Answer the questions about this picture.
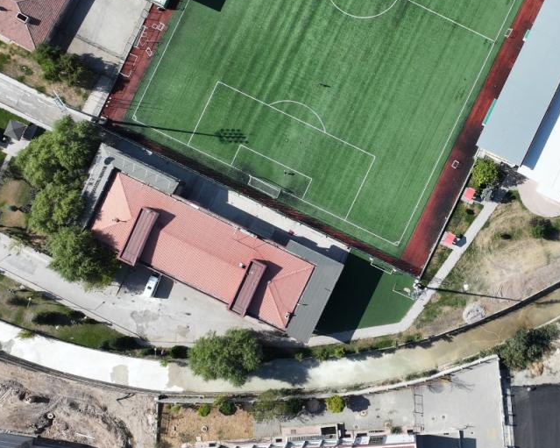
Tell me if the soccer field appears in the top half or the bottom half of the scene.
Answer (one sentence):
Seen from above, the soccer field lies in the top half of the view.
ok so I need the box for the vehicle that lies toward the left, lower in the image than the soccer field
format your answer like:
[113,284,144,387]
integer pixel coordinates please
[142,274,159,298]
